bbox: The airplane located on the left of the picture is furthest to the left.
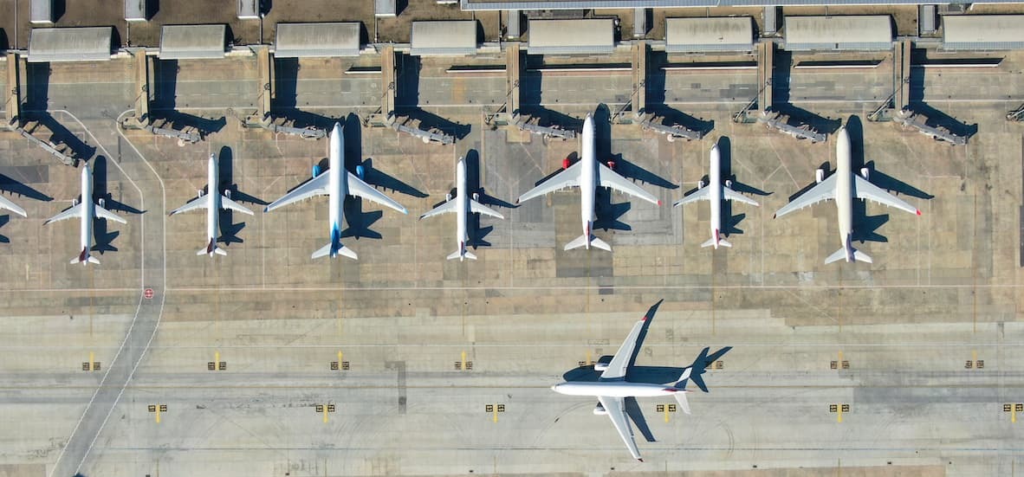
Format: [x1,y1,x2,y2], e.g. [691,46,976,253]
[0,195,29,217]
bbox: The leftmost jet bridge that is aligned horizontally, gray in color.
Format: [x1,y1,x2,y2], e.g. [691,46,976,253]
[141,125,205,147]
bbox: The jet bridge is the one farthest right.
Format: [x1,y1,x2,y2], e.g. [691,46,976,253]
[897,118,967,148]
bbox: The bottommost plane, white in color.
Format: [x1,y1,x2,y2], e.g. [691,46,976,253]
[551,318,692,462]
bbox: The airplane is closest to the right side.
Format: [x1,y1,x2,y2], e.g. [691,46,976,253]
[775,125,919,263]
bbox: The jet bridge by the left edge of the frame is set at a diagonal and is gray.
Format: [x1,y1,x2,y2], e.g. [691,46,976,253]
[15,124,79,169]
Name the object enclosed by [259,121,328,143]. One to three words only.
jet bridge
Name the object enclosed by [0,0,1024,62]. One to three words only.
building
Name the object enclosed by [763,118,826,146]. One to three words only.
jet bridge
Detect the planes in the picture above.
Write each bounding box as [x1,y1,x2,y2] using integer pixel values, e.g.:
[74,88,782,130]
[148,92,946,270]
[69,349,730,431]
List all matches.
[551,318,692,462]
[420,157,503,260]
[517,112,661,250]
[675,143,758,247]
[169,154,252,257]
[263,122,407,260]
[42,163,125,266]
[0,195,29,217]
[775,125,919,263]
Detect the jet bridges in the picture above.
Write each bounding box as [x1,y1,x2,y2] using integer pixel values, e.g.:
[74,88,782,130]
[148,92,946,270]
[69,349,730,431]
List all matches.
[638,120,702,145]
[389,121,455,147]
[897,118,967,148]
[141,125,205,147]
[513,120,575,144]
[763,118,826,146]
[259,121,328,143]
[15,124,79,169]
